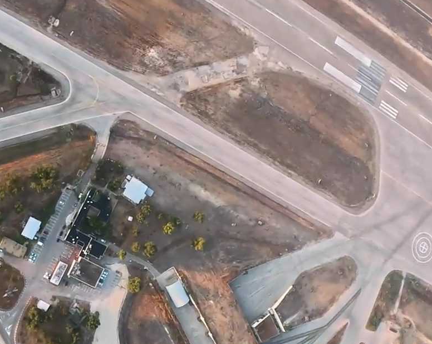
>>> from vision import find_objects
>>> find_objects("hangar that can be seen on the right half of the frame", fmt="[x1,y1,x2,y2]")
[255,317,280,340]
